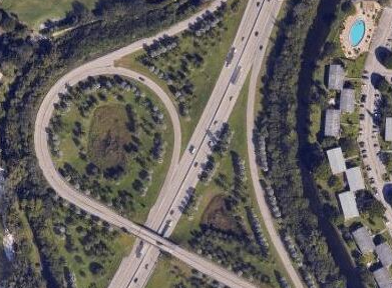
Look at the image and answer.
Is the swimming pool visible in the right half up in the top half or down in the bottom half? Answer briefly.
top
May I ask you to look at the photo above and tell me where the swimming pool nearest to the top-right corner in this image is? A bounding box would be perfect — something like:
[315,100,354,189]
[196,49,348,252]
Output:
[340,0,381,60]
